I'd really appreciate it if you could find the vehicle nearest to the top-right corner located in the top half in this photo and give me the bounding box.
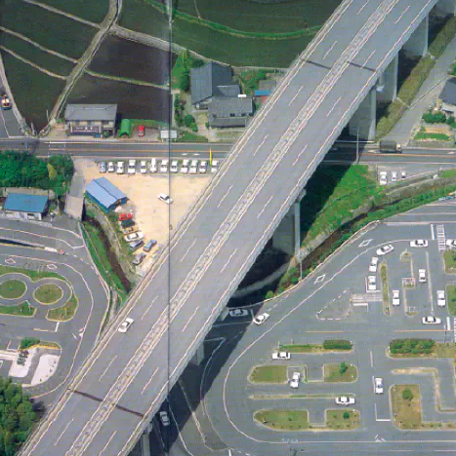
[378,140,402,152]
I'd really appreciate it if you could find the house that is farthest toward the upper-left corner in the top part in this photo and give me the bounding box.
[66,105,117,134]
